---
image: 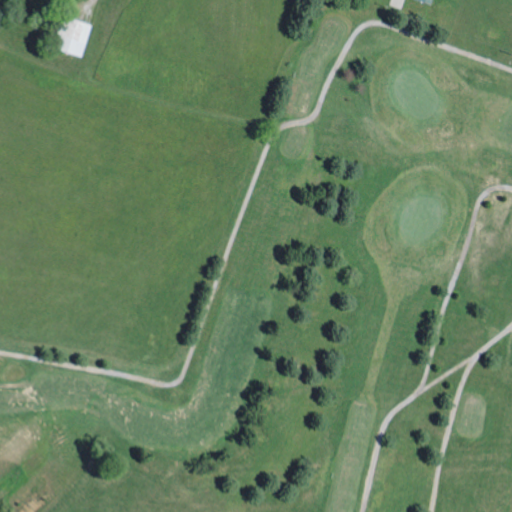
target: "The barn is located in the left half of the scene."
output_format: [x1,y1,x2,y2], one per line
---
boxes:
[59,19,92,58]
